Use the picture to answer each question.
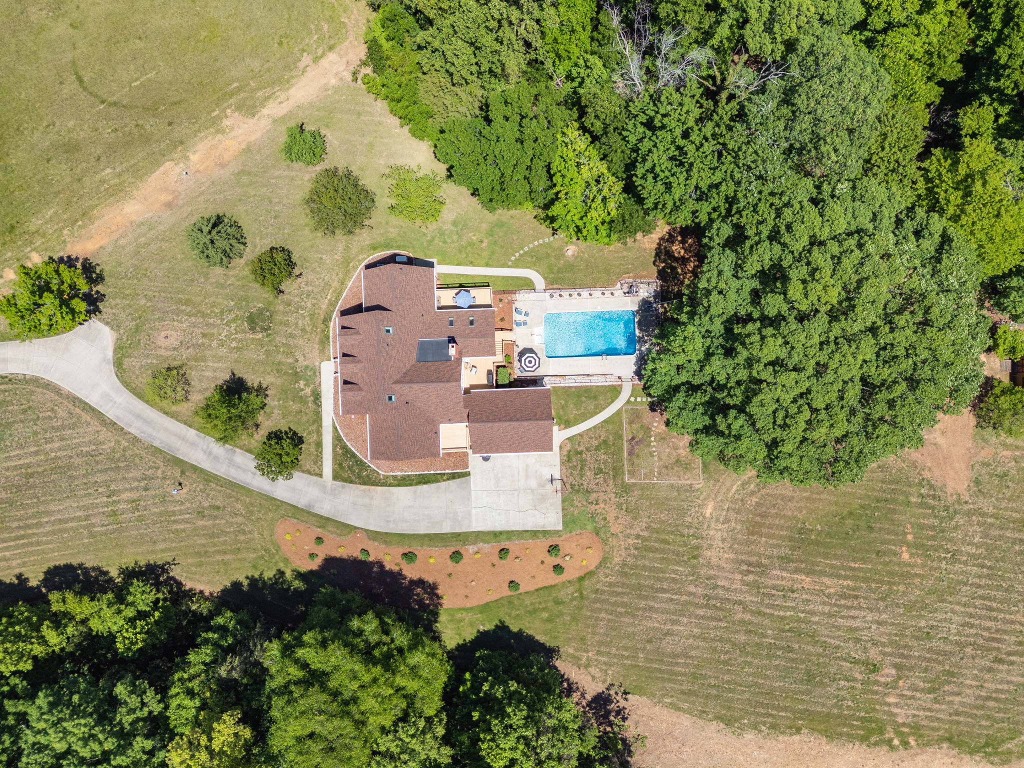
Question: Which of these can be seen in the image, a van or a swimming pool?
swimming pool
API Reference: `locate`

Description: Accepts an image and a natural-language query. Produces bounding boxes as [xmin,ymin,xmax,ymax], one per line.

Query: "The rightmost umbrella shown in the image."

[521,352,540,372]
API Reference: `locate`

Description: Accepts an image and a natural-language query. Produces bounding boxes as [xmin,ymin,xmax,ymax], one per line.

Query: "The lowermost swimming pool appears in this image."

[534,306,638,361]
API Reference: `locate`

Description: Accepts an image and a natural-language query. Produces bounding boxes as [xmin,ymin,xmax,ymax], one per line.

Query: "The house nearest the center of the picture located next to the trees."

[335,263,553,461]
